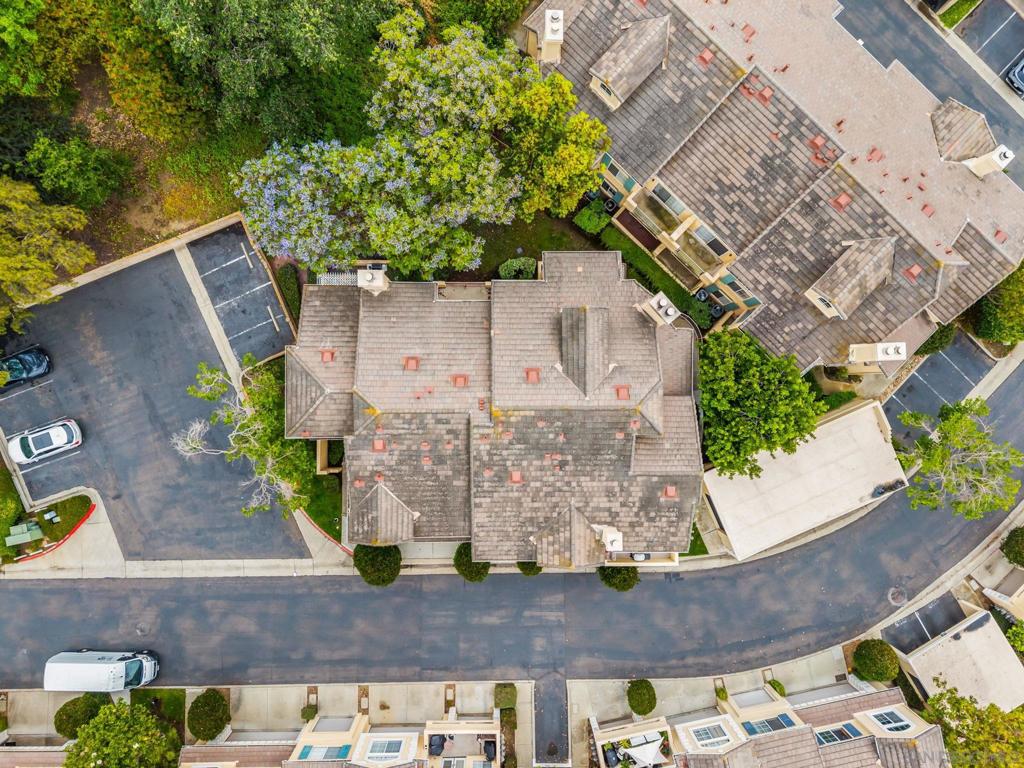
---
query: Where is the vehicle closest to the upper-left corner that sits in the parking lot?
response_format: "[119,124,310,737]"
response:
[0,348,57,392]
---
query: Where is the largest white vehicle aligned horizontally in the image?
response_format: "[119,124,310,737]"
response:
[46,648,159,693]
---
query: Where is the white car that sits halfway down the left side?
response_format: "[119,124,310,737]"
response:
[11,419,86,463]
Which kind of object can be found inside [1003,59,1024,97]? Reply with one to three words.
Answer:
car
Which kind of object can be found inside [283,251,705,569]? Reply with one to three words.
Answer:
building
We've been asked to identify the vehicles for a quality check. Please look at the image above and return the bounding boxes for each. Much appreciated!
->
[1003,59,1024,97]
[11,419,86,463]
[0,348,57,392]
[46,648,159,693]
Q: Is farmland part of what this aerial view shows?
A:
No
